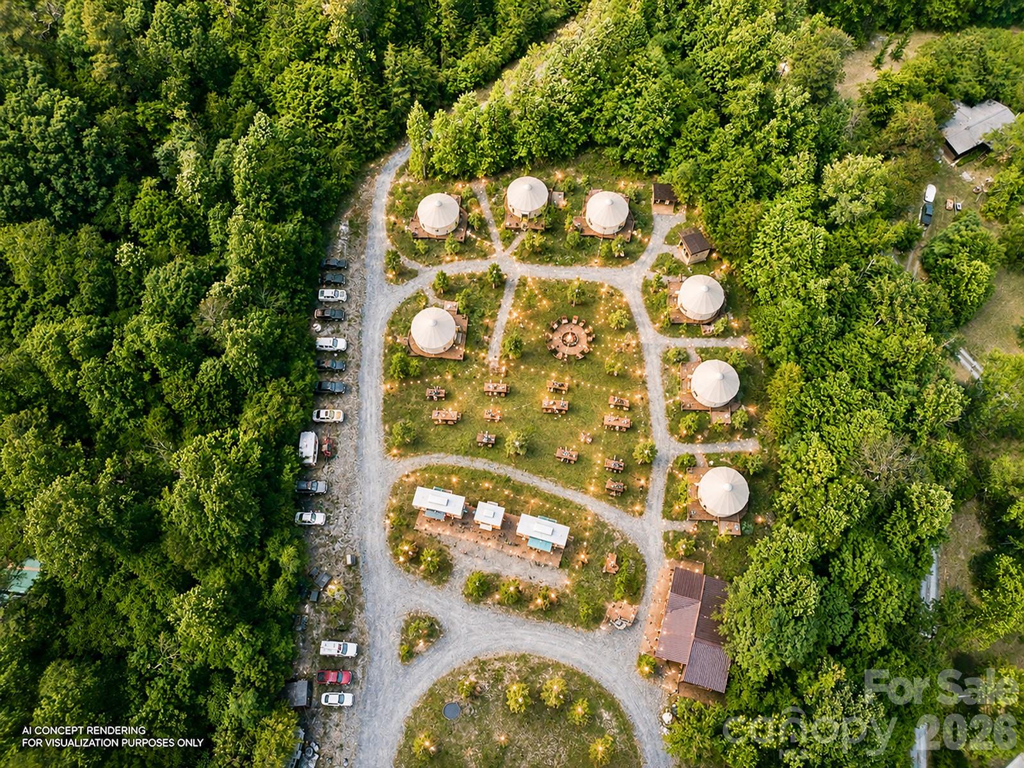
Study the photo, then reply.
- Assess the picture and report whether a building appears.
Yes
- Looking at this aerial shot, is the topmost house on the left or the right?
right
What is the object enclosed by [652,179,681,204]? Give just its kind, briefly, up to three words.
shed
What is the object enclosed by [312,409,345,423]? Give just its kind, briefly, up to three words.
car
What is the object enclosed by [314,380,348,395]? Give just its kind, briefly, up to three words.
vehicle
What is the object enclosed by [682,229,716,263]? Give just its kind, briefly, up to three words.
shed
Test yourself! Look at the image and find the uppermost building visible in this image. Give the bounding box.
[945,99,1015,162]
